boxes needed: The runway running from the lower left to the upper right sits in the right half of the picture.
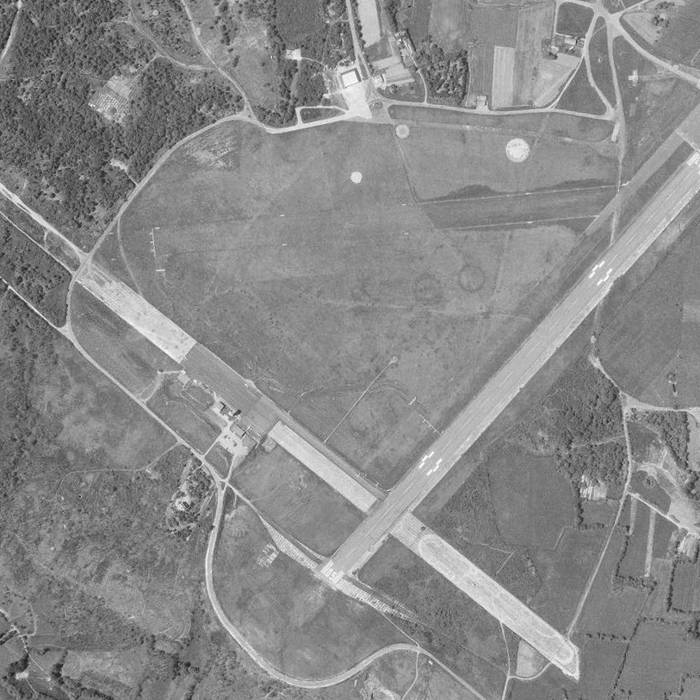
[322,151,700,583]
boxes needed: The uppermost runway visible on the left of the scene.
[77,262,196,363]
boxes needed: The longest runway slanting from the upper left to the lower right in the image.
[389,512,580,680]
